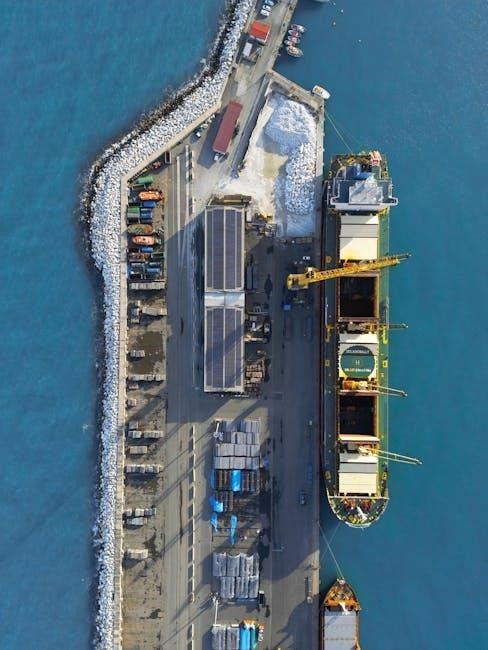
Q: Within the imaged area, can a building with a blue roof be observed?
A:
No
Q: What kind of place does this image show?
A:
port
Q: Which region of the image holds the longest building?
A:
center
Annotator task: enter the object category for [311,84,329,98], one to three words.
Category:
boat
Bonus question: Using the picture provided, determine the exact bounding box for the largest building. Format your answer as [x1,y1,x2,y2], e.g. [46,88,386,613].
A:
[204,206,245,392]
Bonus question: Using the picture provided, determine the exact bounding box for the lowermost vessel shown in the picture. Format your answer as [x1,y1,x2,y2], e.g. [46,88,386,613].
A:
[319,580,362,650]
